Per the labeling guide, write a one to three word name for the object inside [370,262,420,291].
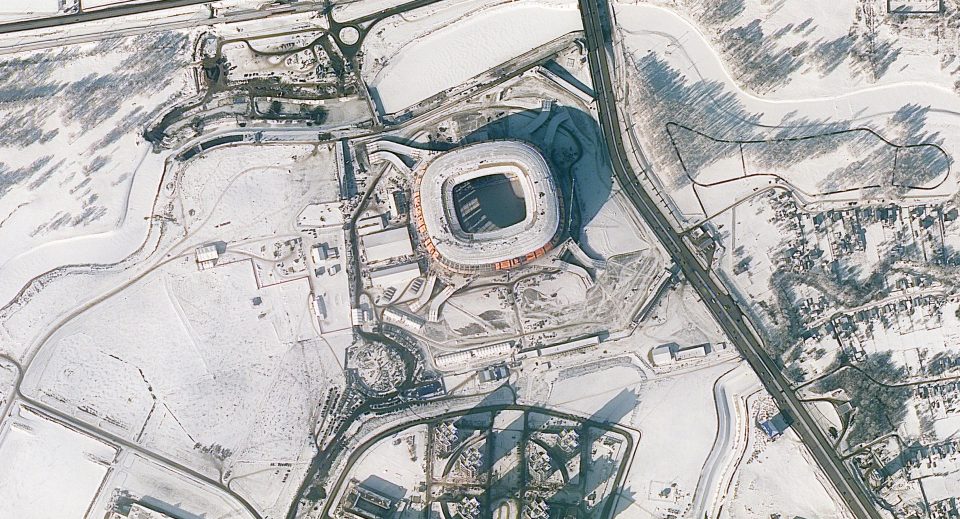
building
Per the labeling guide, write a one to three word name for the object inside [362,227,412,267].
building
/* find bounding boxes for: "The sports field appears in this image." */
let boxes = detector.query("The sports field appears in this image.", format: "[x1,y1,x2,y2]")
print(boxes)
[452,183,527,235]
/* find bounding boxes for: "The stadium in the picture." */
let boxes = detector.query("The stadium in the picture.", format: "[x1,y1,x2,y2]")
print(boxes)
[409,139,562,284]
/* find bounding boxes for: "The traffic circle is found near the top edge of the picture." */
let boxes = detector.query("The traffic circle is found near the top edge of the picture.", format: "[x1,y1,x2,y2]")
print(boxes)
[332,20,365,51]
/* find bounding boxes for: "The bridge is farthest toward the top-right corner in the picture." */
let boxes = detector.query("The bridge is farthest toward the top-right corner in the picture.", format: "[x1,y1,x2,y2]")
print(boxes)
[578,0,608,74]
